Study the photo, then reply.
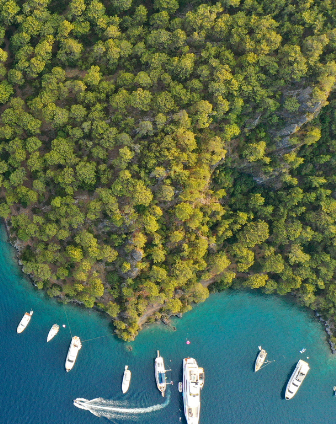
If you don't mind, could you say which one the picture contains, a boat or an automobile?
boat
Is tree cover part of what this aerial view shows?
Yes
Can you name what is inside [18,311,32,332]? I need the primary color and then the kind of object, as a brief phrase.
white boat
